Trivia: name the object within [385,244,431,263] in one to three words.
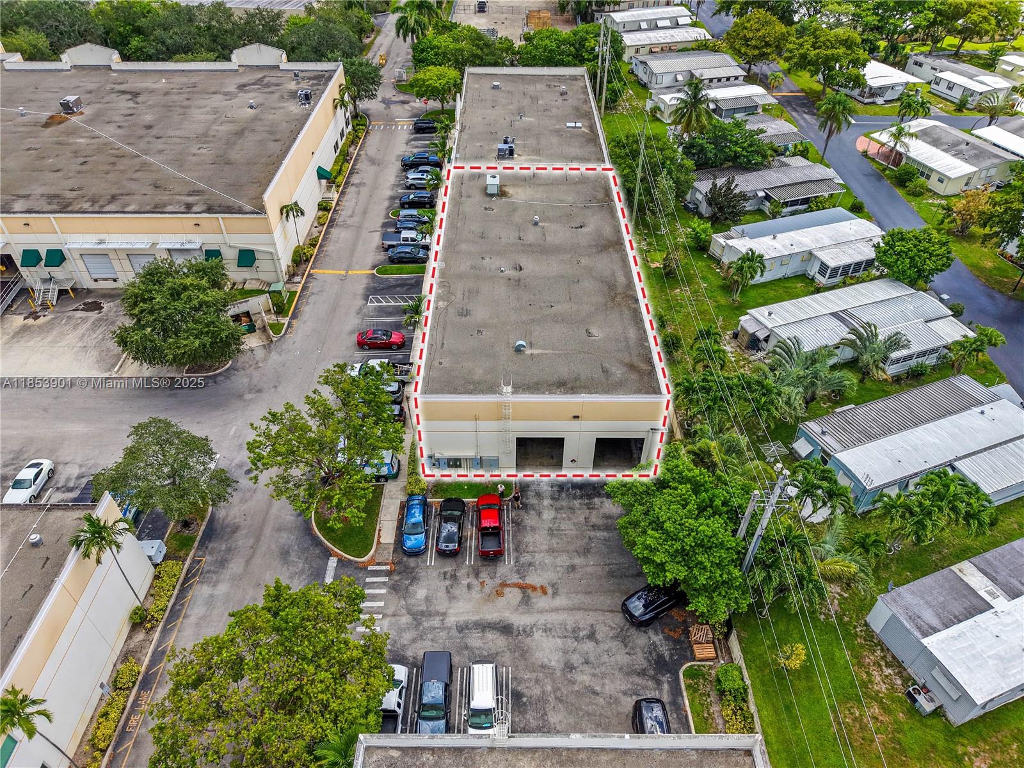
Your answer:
car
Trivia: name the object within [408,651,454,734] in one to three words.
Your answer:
vehicle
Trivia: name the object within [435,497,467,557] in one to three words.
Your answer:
car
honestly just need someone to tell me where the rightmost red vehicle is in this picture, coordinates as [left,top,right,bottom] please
[474,491,506,562]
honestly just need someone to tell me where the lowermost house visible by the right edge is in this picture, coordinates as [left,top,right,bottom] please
[867,535,1024,728]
